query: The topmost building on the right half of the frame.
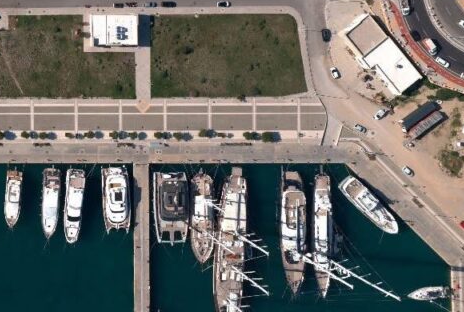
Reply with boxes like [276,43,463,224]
[338,14,423,95]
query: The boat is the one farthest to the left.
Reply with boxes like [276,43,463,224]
[4,159,23,228]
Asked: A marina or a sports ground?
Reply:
marina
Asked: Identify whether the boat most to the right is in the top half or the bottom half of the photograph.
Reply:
bottom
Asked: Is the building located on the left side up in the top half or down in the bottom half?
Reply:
top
